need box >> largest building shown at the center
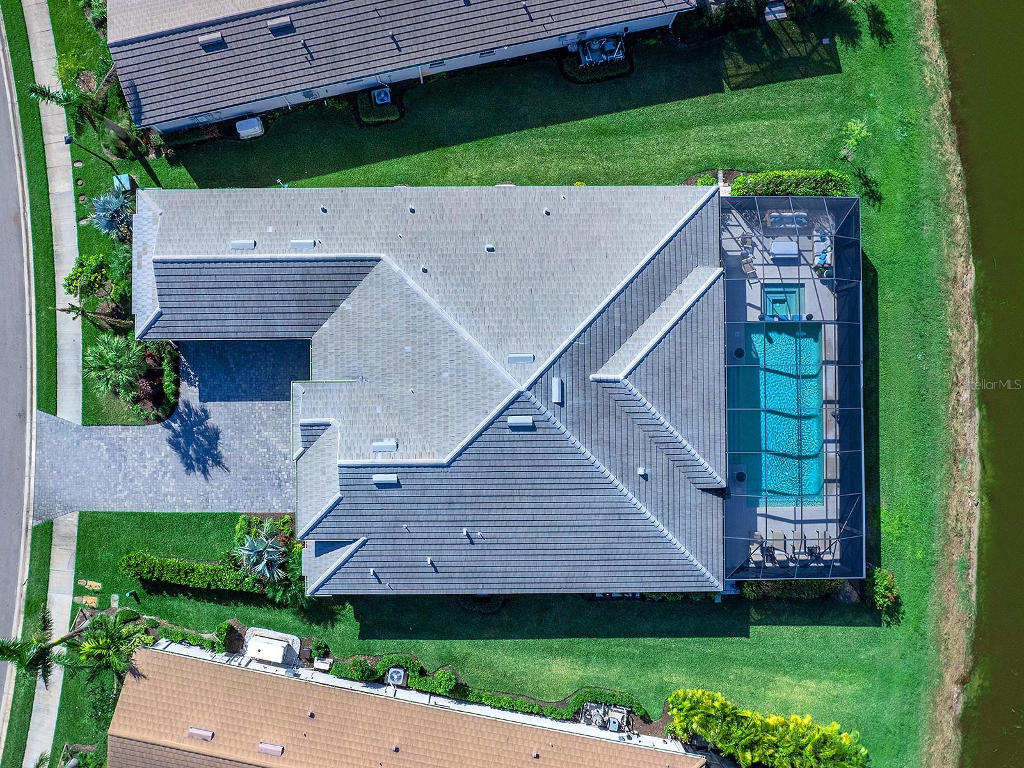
[134,184,728,597]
